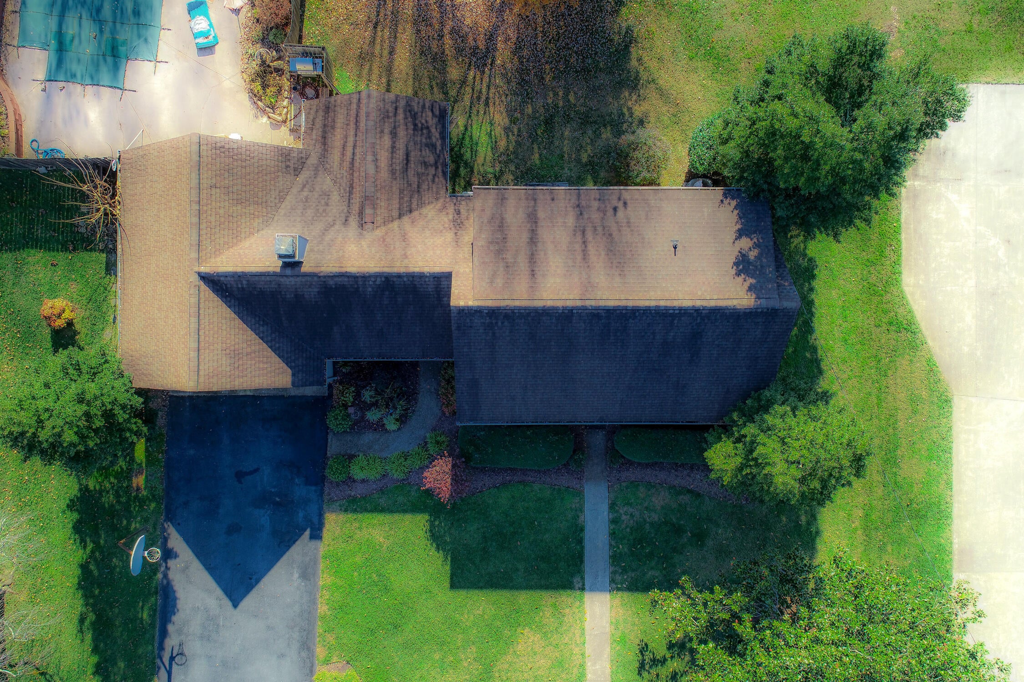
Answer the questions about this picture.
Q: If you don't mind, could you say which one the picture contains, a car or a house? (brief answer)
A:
house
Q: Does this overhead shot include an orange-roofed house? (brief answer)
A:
No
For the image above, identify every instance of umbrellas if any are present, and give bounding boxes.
[226,0,246,34]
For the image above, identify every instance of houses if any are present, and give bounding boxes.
[116,88,801,428]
